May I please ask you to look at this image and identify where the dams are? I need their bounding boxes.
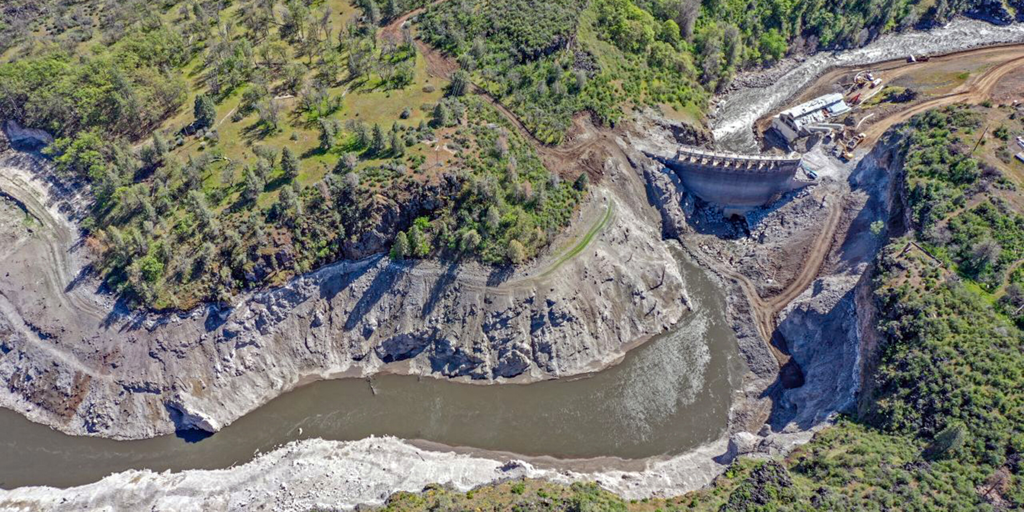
[669,145,815,221]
